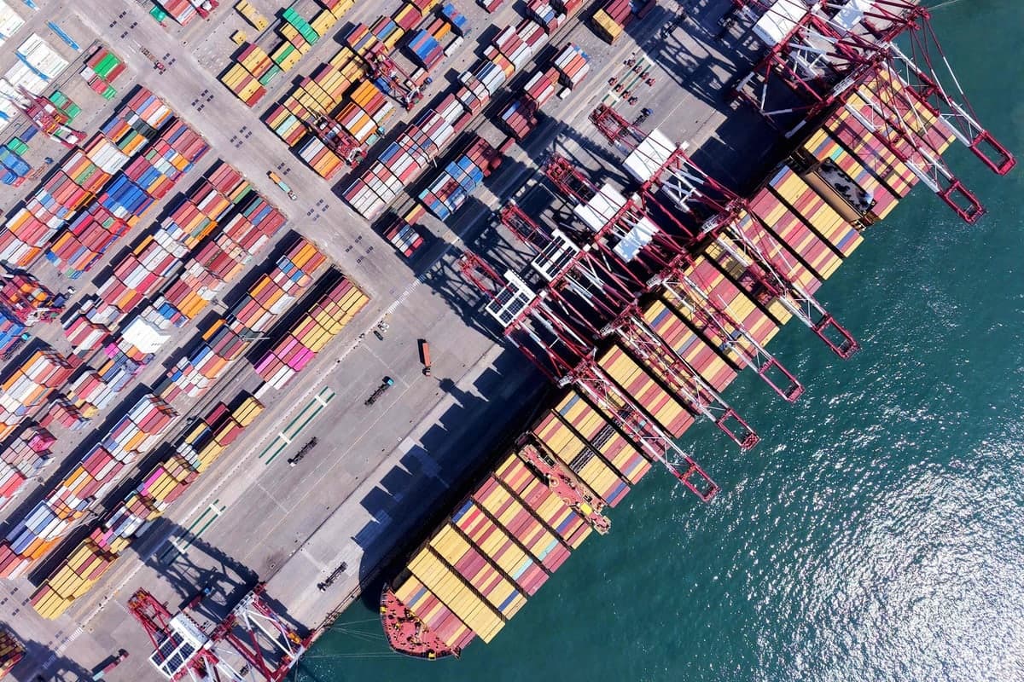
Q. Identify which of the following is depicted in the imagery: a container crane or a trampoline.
container crane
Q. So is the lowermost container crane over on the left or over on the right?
left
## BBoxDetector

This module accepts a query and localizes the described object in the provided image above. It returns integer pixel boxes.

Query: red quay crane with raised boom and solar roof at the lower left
[128,584,308,682]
